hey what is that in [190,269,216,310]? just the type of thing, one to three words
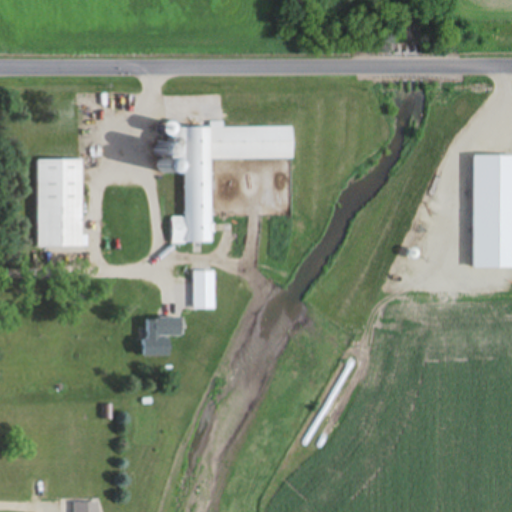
shed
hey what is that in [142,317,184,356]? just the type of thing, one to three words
house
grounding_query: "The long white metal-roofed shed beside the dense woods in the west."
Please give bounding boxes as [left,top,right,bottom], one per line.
[35,158,88,247]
